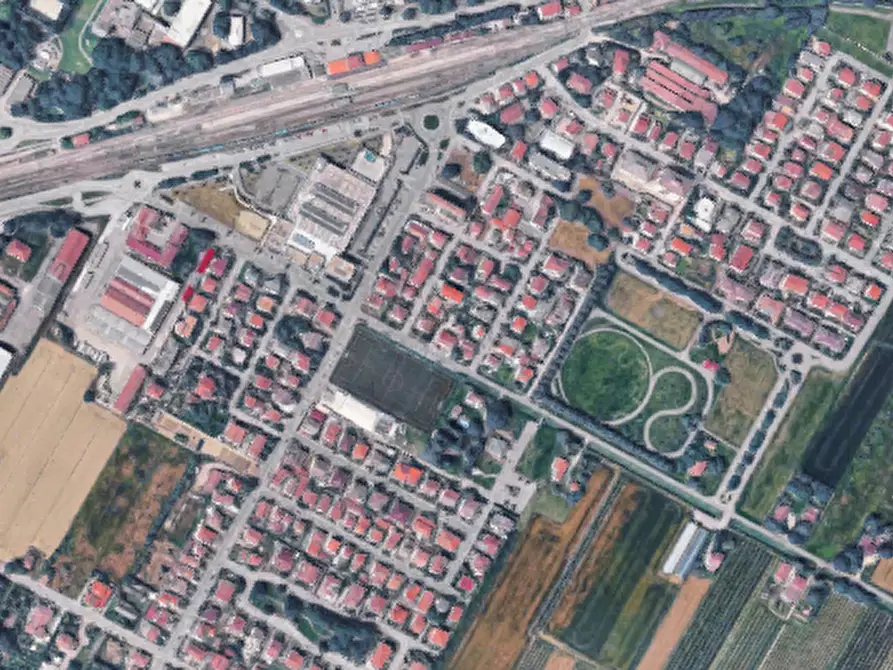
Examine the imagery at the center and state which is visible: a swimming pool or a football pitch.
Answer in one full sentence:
There is a football pitch at the center.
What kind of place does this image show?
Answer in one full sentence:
This looks like a residential area.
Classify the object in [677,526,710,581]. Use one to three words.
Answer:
greenhouse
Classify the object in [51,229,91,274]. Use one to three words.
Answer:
barn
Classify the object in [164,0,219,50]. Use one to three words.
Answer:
building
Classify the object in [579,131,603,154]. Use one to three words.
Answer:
house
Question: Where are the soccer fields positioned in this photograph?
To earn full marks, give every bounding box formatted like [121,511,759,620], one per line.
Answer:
[331,323,453,430]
